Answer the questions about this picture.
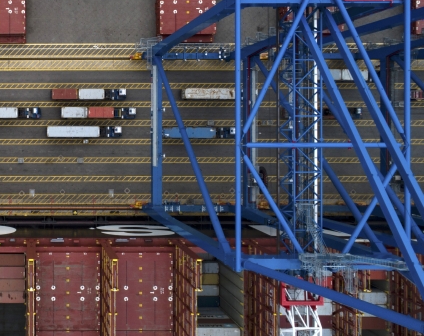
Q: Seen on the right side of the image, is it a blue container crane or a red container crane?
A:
blue container crane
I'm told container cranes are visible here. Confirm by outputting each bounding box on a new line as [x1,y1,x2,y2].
[128,0,424,336]
[262,8,424,252]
